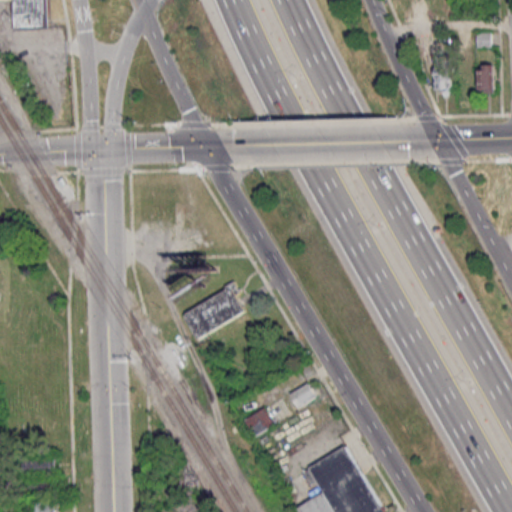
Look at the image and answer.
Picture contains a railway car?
No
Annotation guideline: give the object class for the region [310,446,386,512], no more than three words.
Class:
building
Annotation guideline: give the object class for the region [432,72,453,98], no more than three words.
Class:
house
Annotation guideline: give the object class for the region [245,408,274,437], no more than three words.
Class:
house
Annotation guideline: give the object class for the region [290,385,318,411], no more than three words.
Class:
shed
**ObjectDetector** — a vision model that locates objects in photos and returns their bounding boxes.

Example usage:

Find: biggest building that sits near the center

[184,281,246,340]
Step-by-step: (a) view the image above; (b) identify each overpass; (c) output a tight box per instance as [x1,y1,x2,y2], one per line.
[204,116,442,168]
